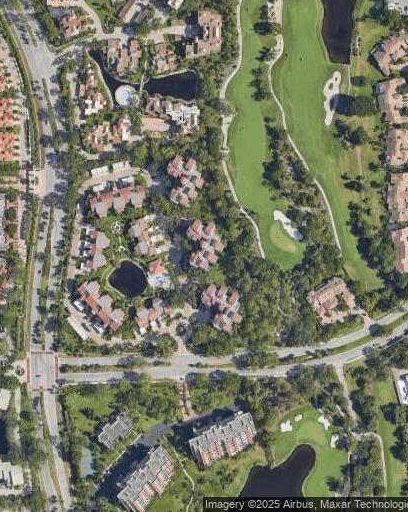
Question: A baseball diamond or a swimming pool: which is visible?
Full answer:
It is a swimming pool that can be seen here.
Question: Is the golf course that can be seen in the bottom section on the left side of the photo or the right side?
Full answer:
It is on the right.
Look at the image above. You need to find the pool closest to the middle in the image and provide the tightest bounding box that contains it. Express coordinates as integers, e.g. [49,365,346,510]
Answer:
[147,275,171,289]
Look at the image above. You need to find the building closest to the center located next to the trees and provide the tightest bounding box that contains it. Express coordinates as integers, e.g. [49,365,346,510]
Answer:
[184,217,225,274]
